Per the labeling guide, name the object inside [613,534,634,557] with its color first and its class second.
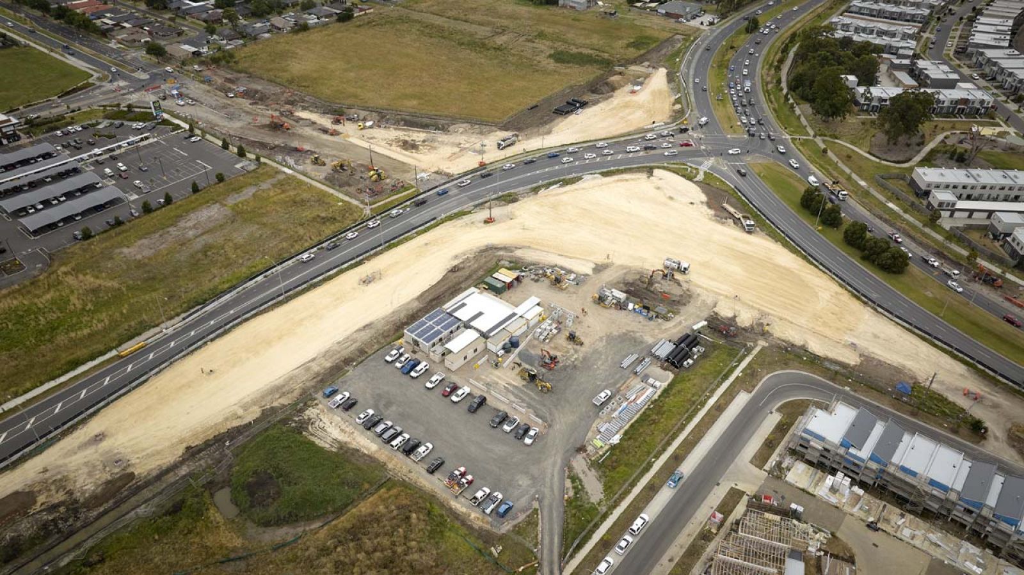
white car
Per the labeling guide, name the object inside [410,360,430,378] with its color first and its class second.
white vehicle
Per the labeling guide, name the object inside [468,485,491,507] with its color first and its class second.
white truck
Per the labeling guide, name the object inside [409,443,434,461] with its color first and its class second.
white vehicle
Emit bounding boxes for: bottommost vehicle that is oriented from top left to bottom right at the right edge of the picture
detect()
[1001,312,1022,326]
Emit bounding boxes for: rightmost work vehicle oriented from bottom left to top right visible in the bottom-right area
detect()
[860,499,891,537]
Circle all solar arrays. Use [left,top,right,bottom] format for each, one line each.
[424,309,446,322]
[423,329,445,343]
[414,324,436,338]
[440,318,461,332]
[432,314,453,327]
